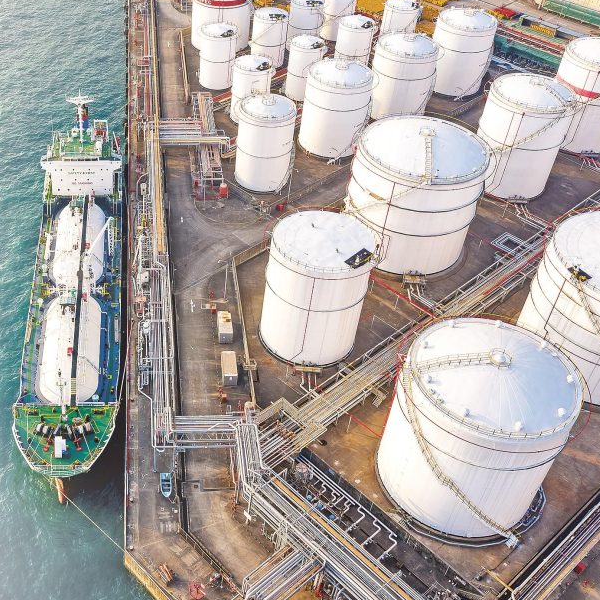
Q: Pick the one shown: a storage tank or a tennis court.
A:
storage tank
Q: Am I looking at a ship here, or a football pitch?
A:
ship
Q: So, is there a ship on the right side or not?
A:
No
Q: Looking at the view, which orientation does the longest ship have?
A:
from top to bottom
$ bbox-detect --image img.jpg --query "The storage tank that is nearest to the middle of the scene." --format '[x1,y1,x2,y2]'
[257,204,379,375]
